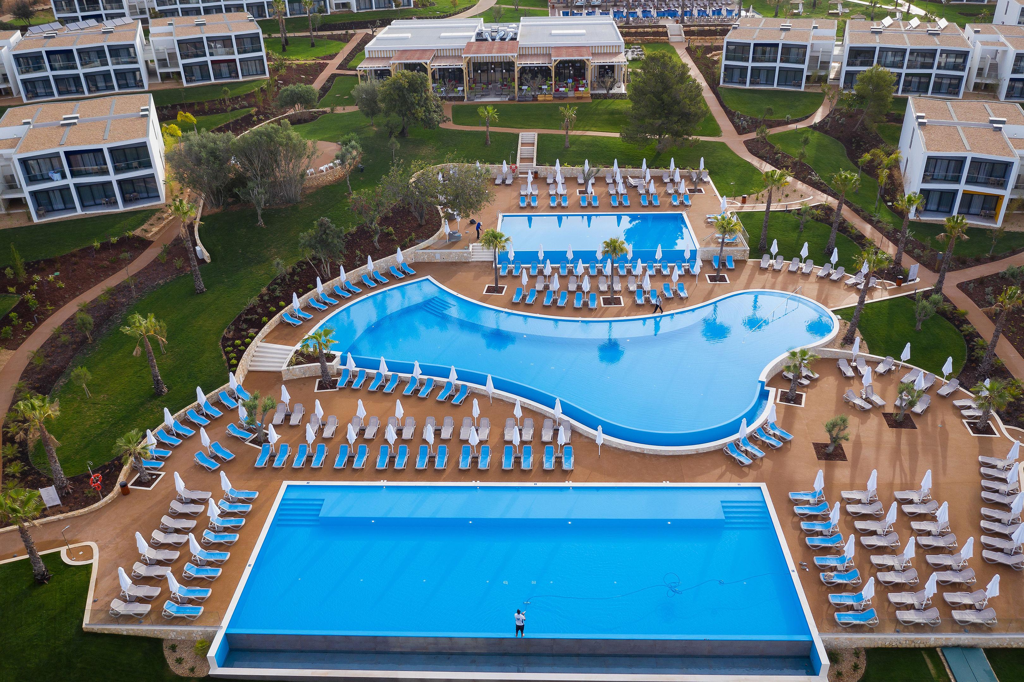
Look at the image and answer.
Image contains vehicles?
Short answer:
No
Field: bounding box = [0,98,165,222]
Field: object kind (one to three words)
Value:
building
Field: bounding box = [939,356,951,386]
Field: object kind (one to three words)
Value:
umbrella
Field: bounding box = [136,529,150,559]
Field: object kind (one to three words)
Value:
umbrella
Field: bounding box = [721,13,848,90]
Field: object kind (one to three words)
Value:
building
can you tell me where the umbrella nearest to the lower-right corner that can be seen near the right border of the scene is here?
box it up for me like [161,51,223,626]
[980,574,997,604]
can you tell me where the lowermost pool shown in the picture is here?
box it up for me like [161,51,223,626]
[224,485,815,643]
